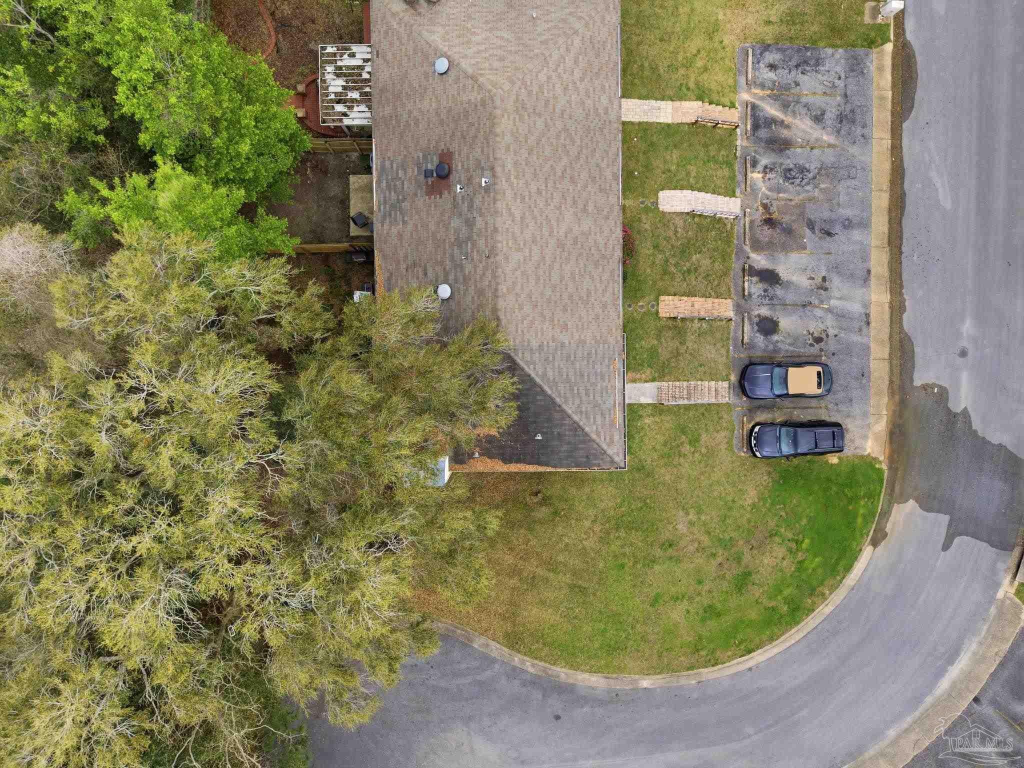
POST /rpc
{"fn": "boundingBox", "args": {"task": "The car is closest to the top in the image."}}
[736,359,833,402]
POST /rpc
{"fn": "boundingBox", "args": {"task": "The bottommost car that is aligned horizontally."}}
[745,417,847,462]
